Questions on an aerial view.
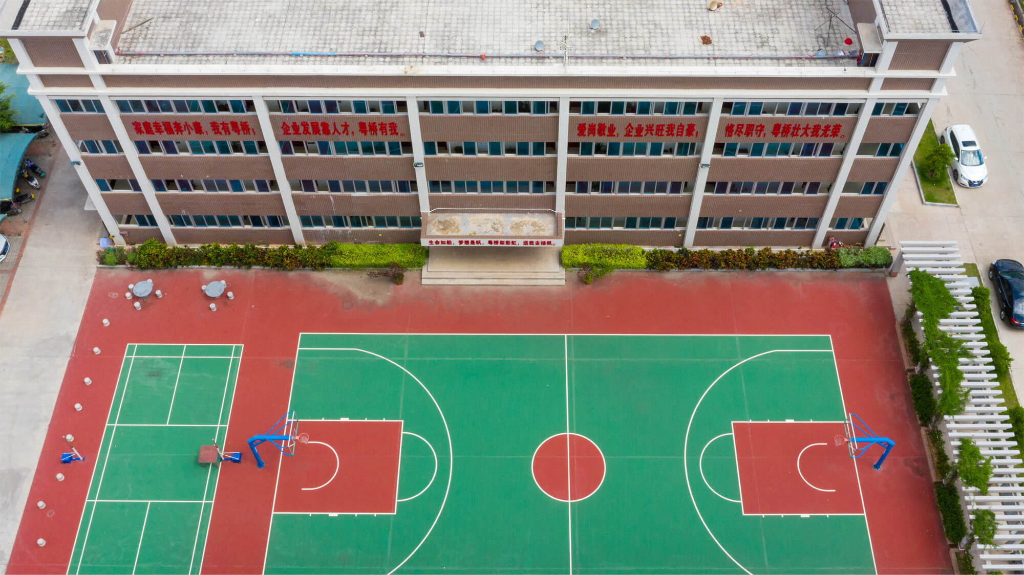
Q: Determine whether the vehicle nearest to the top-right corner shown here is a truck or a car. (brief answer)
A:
car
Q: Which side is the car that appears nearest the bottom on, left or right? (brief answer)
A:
right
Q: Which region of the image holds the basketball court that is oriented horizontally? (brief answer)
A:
bottom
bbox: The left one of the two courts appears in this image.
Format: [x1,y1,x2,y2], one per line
[66,343,244,575]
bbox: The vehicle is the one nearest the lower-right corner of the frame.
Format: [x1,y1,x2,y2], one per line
[990,257,1024,333]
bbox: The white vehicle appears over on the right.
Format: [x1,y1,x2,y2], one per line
[943,119,993,188]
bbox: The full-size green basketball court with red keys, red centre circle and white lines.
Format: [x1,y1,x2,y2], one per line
[263,334,876,575]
